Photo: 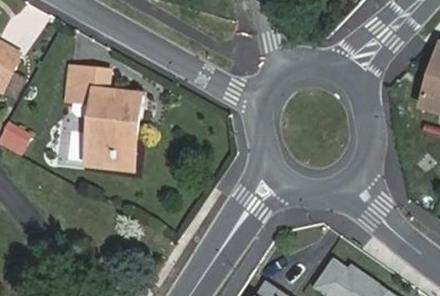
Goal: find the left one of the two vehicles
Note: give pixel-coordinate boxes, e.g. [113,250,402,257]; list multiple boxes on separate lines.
[266,256,286,273]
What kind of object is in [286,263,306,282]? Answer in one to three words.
car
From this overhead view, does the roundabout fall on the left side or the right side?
right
